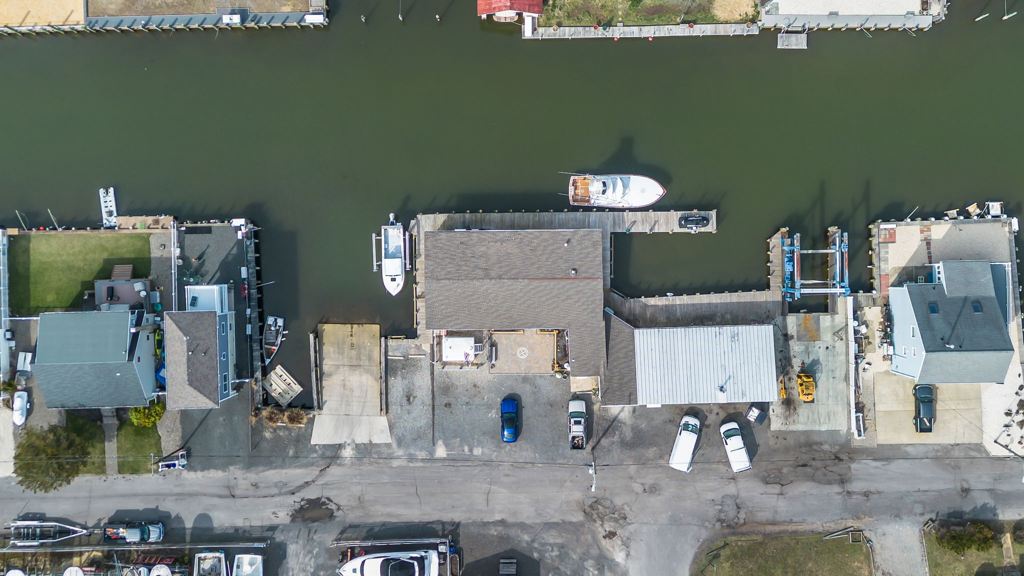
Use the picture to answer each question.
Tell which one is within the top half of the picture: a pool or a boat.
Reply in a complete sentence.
Visible within the top half of the picture is a boat.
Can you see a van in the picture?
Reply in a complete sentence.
Yes, the image includes a van.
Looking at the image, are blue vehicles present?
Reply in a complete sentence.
Yes, the image includes a blue vehicle.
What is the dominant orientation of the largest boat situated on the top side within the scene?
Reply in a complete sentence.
The largest boat situated on the top side has been laid out horizontally relative to the frame.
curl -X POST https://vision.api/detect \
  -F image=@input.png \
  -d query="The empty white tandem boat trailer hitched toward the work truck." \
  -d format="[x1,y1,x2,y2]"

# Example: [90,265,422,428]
[4,520,103,549]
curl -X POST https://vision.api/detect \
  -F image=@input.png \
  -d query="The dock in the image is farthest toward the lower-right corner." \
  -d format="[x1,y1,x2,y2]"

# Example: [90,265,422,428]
[849,290,881,306]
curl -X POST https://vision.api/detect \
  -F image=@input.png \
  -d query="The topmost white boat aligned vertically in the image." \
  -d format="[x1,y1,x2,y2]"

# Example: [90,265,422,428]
[382,217,405,294]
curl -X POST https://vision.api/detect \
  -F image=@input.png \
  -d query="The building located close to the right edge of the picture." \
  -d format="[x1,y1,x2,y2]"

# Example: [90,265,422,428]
[889,260,1014,384]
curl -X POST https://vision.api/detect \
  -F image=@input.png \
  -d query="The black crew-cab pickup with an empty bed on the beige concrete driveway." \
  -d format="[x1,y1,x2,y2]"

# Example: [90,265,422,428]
[912,384,936,434]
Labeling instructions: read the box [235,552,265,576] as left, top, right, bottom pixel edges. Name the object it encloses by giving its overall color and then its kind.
white boat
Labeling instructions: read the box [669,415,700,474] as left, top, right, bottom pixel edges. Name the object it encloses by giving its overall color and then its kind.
white van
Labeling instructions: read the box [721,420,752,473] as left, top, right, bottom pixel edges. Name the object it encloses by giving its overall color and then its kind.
white truck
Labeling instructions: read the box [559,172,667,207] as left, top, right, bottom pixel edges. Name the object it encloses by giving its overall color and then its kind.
white boat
